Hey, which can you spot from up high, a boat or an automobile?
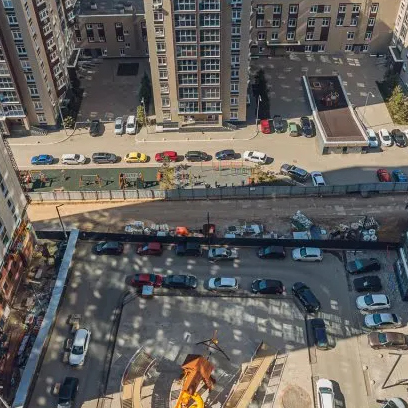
automobile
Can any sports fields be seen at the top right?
No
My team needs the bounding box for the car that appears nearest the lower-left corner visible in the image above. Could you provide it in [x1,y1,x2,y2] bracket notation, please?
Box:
[55,377,82,408]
